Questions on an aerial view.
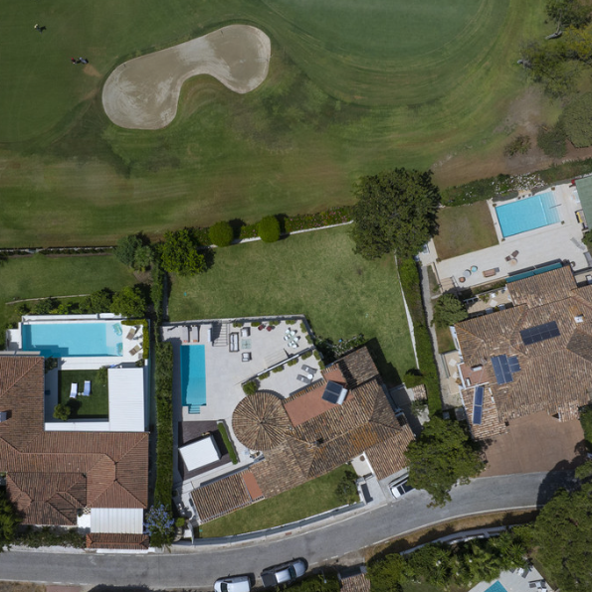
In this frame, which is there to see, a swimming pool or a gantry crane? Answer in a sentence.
This aerial view contains a swimming pool.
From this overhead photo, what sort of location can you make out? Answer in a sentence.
The area seen from above is a golf course.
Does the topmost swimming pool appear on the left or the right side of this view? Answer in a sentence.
The topmost swimming pool sits on the right side.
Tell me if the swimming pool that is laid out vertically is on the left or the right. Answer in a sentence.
The swimming pool that is laid out vertically is on the left side of the image.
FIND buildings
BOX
[452,265,592,439]
[568,176,592,230]
[190,346,415,522]
[0,356,150,551]
[411,385,427,403]
[339,566,369,592]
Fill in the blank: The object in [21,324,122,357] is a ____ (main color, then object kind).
blue swimming pool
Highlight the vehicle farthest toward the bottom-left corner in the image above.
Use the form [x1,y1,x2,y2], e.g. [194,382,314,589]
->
[214,573,253,592]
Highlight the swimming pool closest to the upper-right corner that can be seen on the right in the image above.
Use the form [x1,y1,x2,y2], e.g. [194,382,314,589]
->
[495,191,561,237]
